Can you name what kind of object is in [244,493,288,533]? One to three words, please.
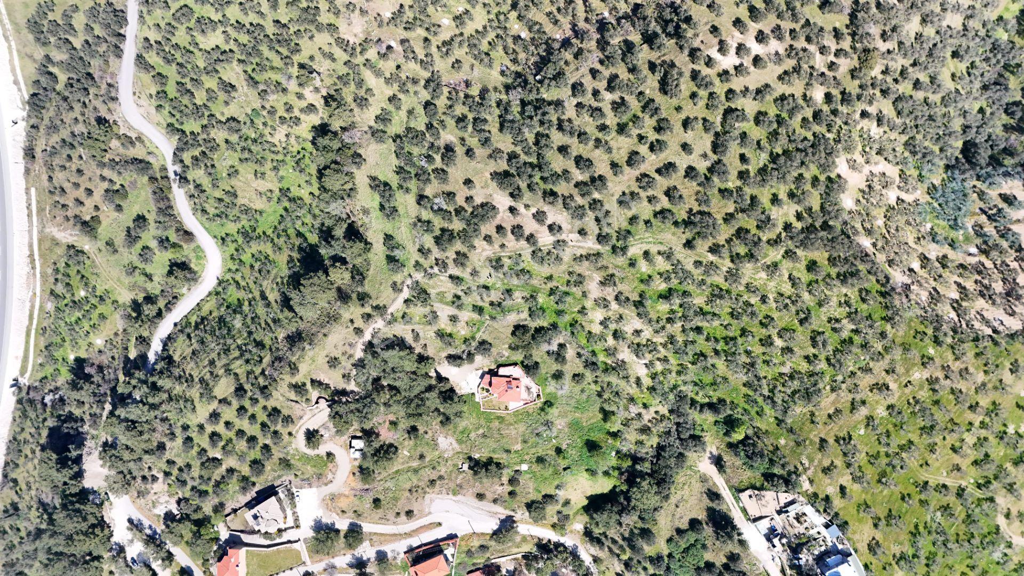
house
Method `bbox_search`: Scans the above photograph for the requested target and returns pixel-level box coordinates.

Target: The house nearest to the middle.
[481,374,521,402]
